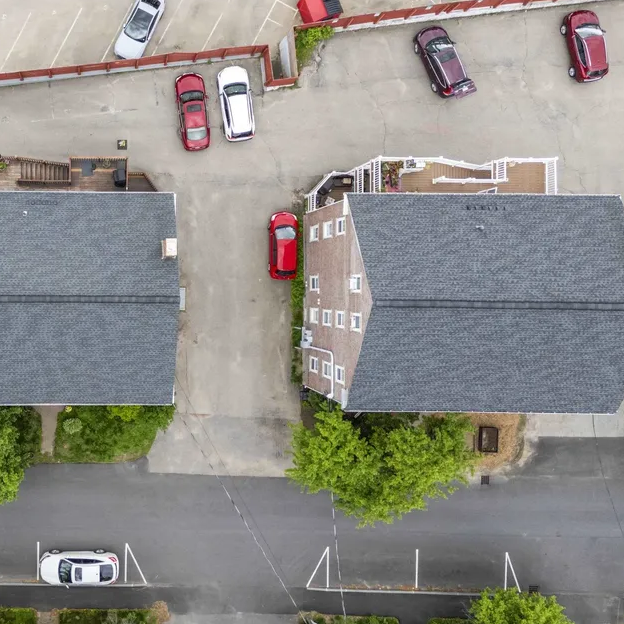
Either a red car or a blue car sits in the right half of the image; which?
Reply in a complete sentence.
The one visible in the right half of the image is a red car.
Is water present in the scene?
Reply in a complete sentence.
No, no water is visible.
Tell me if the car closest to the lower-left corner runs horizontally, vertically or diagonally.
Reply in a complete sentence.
From this overhead view, the car closest to the lower-left corner appears to run horizontally.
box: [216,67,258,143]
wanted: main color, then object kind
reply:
white car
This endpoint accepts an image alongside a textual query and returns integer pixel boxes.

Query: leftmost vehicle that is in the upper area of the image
[115,0,165,60]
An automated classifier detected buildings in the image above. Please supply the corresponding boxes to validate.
[301,194,624,417]
[0,192,180,406]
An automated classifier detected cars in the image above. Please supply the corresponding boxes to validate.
[216,67,258,143]
[559,9,610,85]
[266,211,303,282]
[173,74,211,151]
[38,549,119,589]
[115,0,165,60]
[411,22,475,99]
